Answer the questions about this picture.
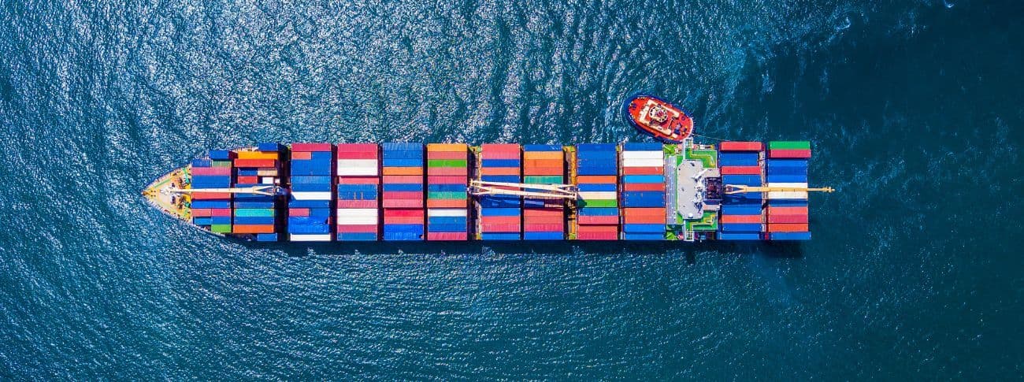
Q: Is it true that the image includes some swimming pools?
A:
No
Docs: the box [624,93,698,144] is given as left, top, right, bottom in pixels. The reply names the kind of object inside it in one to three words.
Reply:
boat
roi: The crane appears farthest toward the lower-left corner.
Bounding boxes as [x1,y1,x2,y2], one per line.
[163,184,292,198]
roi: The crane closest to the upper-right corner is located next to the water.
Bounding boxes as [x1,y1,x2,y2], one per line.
[722,182,833,195]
